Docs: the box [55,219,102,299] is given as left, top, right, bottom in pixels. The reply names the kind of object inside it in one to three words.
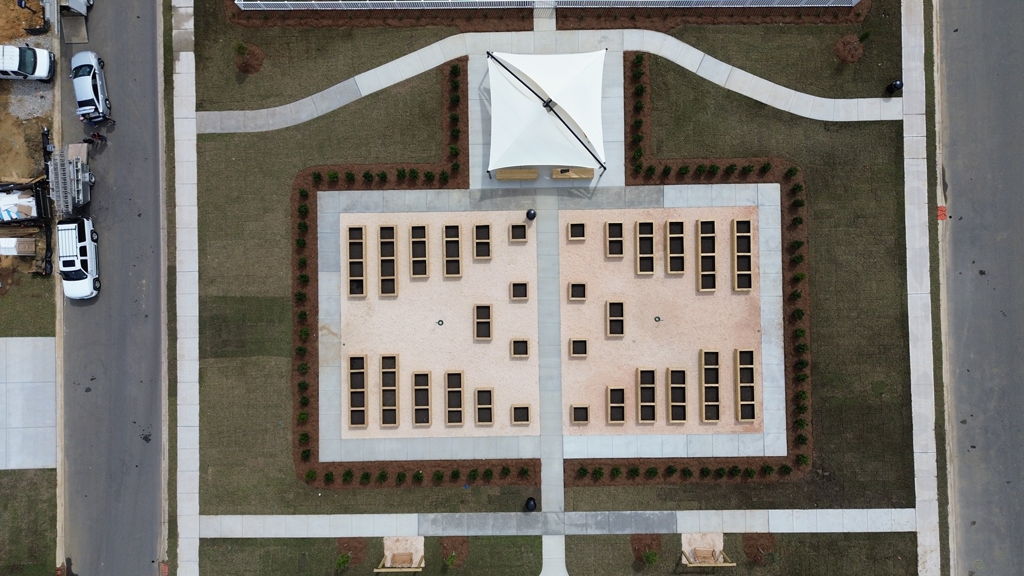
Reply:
car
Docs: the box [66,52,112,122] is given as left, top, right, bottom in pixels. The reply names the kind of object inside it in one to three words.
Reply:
car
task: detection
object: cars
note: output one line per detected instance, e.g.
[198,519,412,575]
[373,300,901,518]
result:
[0,42,58,84]
[55,219,102,299]
[66,52,112,122]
